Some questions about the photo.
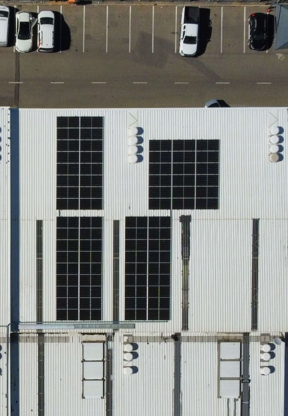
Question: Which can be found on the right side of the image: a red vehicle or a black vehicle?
black vehicle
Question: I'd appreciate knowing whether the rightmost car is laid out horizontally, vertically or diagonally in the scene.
vertically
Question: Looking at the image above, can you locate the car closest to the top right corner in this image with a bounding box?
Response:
[248,10,270,56]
